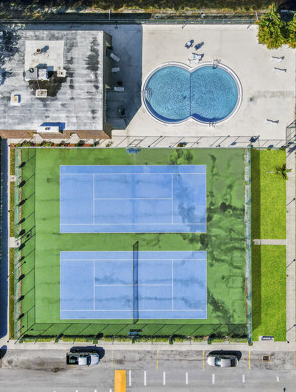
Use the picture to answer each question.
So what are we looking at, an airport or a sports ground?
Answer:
sports ground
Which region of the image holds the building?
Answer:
top left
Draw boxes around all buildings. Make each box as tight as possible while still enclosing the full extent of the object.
[0,30,111,139]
